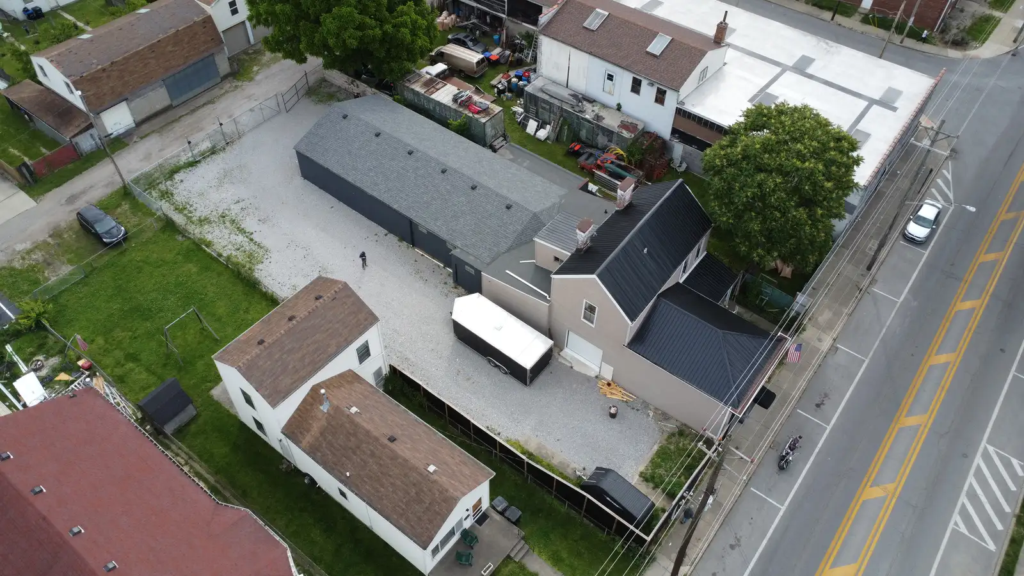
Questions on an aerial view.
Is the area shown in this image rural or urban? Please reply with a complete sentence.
The area shown here is urban.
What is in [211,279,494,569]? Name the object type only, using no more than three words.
house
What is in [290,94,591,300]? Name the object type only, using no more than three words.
building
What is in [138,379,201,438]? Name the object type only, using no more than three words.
shed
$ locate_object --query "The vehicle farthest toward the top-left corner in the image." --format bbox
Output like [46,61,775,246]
[66,196,124,243]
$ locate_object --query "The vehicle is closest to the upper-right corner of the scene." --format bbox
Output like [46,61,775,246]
[905,197,947,243]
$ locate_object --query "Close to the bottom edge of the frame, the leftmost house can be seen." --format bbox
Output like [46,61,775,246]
[0,384,301,576]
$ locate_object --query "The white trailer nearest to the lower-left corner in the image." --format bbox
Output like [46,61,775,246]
[445,295,553,386]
